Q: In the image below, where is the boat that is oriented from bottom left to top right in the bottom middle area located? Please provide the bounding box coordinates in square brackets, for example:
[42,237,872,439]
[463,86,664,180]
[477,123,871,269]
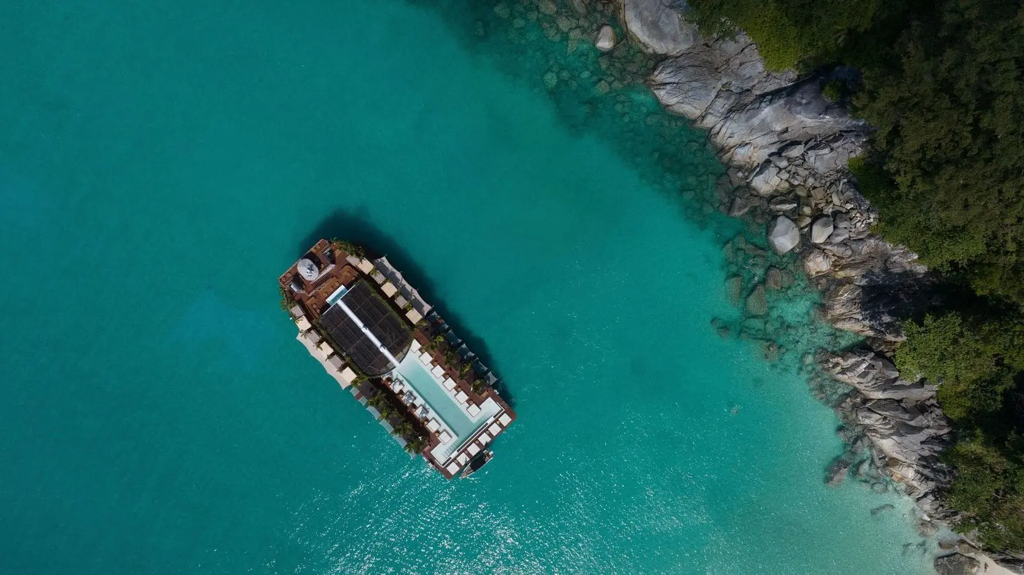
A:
[459,450,495,479]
